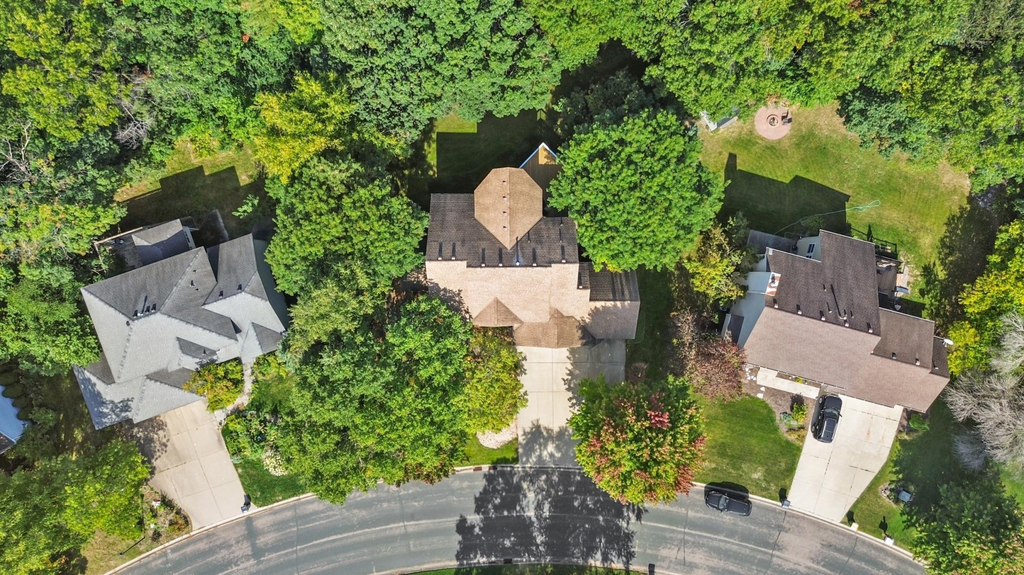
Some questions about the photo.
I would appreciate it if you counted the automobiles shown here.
2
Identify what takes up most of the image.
trees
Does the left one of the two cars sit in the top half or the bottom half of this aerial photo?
bottom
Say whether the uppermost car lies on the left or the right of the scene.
right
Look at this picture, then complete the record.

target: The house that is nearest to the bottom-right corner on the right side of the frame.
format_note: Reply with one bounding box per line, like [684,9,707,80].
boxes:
[716,228,950,413]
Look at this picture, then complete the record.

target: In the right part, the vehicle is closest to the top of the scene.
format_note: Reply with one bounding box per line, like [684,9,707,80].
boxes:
[812,393,843,444]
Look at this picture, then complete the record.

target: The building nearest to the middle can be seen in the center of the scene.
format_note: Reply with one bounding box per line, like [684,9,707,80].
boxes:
[426,167,640,348]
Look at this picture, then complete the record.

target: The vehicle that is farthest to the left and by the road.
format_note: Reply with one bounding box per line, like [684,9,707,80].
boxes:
[704,485,753,515]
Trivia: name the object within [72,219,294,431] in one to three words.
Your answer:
house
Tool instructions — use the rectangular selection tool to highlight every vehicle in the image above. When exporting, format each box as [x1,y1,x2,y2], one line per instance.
[704,485,753,515]
[812,393,843,444]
